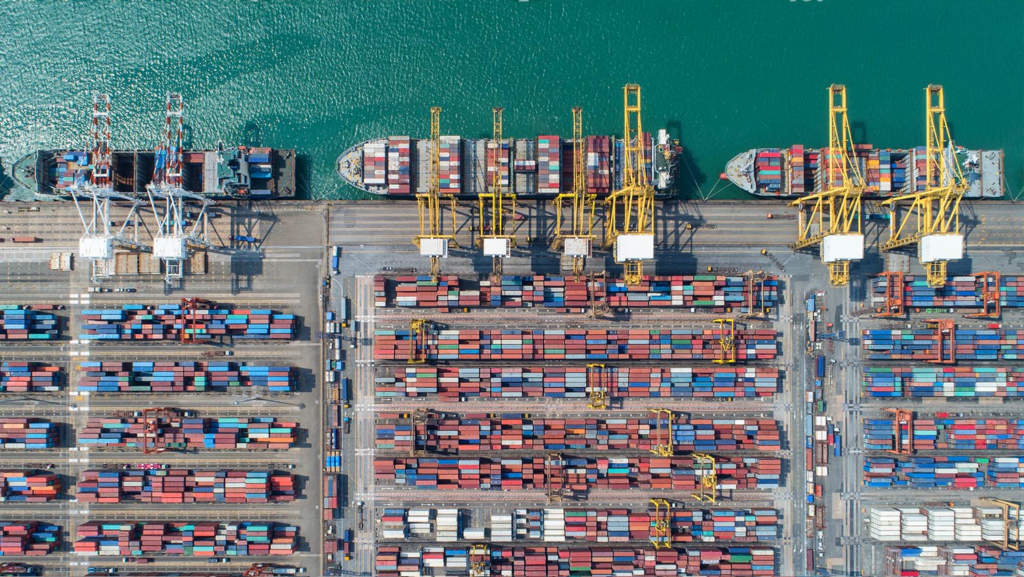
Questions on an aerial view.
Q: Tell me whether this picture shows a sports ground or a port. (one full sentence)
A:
What you see here is a port.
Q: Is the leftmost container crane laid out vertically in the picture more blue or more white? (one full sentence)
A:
The leftmost container crane laid out vertically is white.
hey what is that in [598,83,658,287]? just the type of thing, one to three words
container crane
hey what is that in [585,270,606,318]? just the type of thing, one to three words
container crane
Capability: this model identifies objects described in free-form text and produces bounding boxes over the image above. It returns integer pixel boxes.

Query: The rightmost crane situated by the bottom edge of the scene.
[982,497,1021,552]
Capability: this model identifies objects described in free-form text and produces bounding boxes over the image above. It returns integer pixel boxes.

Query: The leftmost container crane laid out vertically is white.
[67,92,155,282]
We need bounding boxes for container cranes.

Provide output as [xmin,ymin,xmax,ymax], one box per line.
[878,408,912,458]
[869,270,903,318]
[649,408,673,458]
[918,318,955,365]
[787,83,871,287]
[544,451,565,503]
[690,451,716,503]
[142,407,175,458]
[709,318,736,364]
[598,83,658,287]
[408,318,430,364]
[962,270,1000,318]
[982,497,1021,552]
[877,83,974,287]
[415,106,462,280]
[551,106,598,280]
[409,408,432,458]
[145,92,223,282]
[585,270,606,318]
[180,297,211,345]
[67,92,155,282]
[737,270,765,318]
[585,362,607,410]
[476,106,520,280]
